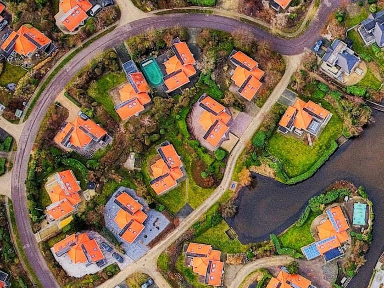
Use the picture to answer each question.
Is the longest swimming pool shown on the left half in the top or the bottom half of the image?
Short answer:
top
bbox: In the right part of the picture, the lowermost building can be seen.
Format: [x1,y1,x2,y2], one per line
[261,265,316,288]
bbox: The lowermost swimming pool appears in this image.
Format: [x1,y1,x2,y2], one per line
[352,202,366,226]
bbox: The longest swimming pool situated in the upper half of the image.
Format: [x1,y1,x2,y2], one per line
[140,57,164,88]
